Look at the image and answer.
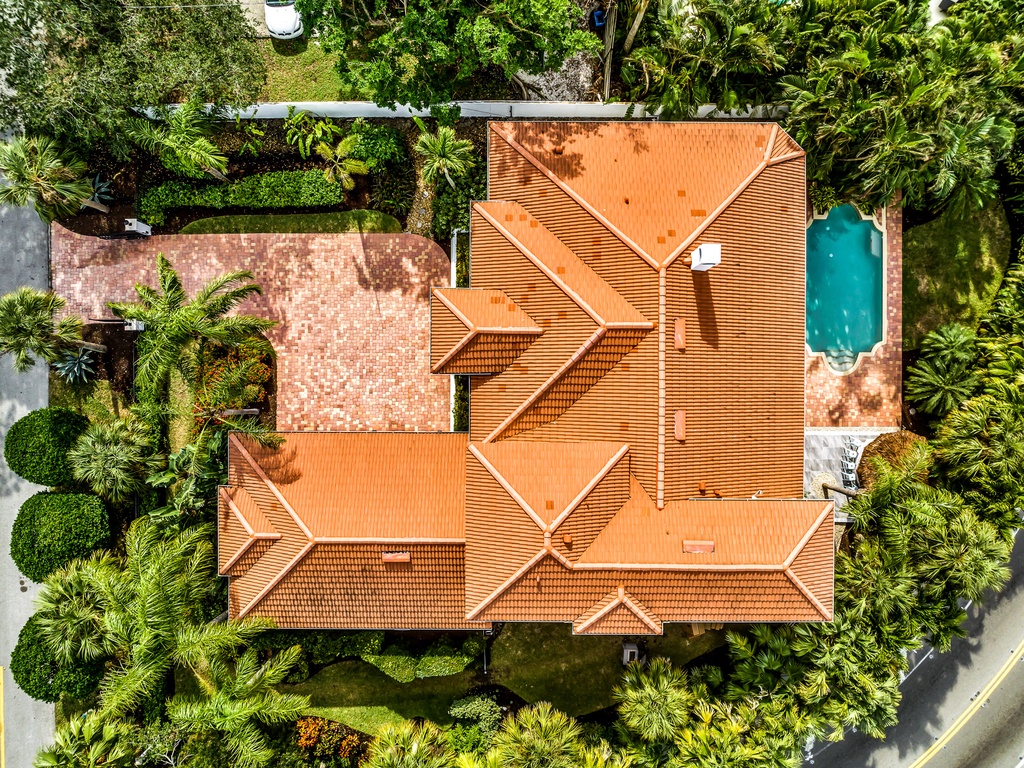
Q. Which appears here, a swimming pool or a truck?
swimming pool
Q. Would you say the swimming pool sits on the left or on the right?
right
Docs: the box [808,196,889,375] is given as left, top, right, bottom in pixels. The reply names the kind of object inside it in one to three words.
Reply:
swimming pool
